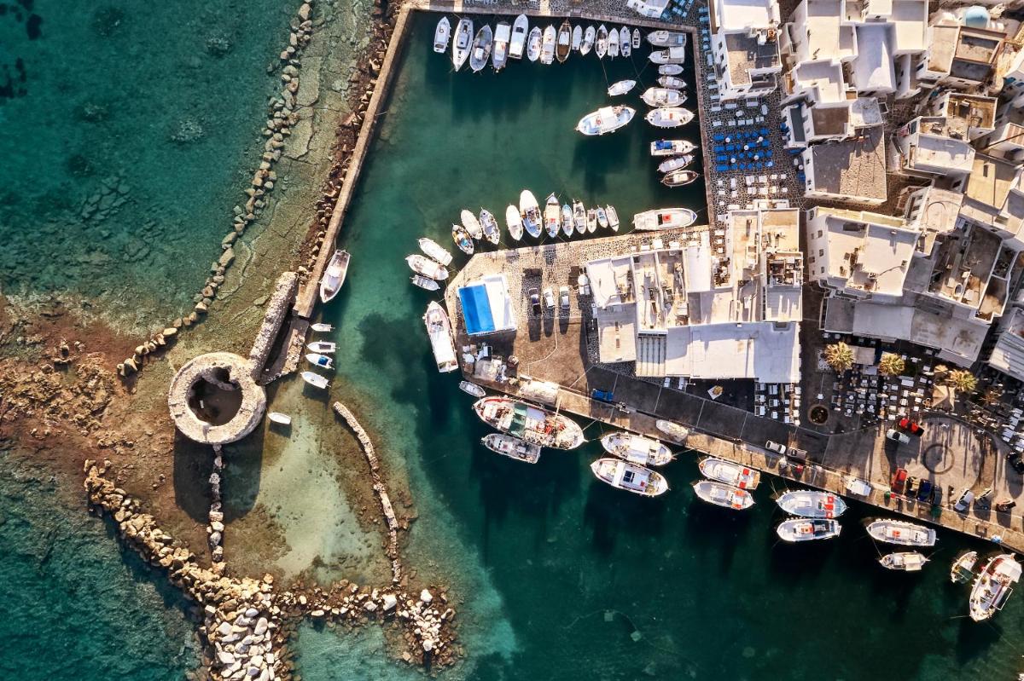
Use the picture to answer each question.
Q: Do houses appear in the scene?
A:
Yes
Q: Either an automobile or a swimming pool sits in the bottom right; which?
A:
automobile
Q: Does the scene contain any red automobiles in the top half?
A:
No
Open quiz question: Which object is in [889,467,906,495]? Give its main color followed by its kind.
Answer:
red car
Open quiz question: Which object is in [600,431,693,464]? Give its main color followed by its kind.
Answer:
white boat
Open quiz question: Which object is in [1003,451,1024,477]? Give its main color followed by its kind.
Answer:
black car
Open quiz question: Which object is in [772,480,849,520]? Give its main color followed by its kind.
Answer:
white boat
